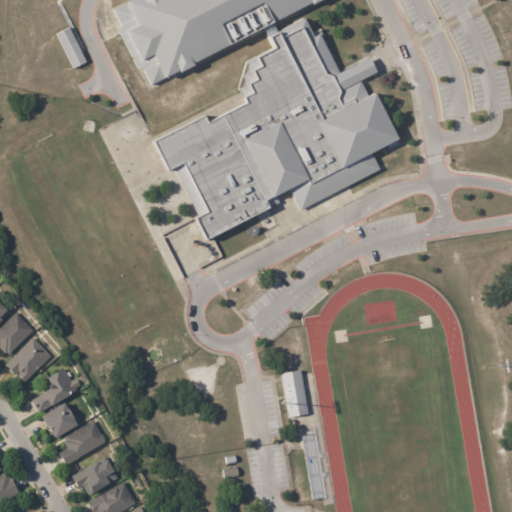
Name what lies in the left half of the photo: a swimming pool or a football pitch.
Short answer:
football pitch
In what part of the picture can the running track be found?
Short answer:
bottom right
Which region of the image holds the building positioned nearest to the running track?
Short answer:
bottom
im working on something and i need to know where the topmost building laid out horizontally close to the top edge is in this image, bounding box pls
[113,0,322,84]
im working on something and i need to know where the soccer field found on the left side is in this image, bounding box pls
[20,128,170,346]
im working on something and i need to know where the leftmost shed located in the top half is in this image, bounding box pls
[58,28,86,68]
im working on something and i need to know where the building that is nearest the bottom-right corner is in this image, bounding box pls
[282,370,309,418]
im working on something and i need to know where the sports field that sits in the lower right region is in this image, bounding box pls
[326,288,475,512]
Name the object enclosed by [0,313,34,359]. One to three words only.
house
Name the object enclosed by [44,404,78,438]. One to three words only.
house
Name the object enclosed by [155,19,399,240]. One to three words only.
building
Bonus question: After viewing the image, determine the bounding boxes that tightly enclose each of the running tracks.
[304,272,492,512]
